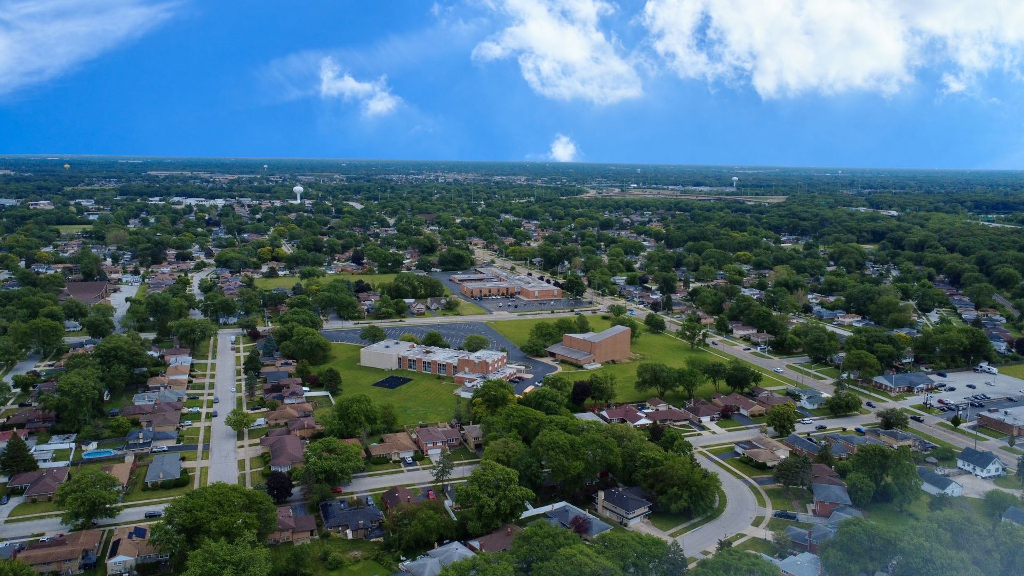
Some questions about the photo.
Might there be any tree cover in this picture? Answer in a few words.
Yes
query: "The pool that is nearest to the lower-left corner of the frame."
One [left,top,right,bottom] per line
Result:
[80,448,119,462]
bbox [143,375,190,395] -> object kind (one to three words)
house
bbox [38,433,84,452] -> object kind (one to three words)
shed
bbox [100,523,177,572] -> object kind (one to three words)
house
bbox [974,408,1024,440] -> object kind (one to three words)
building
